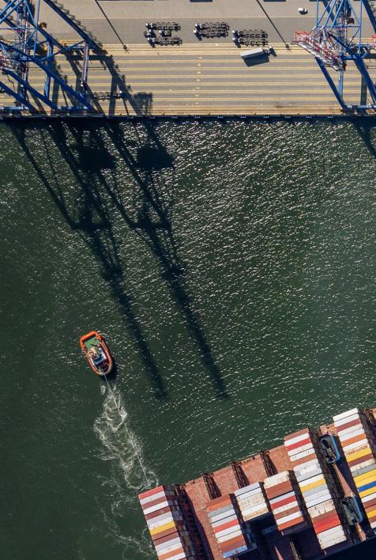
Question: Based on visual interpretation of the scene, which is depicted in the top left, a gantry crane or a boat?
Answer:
gantry crane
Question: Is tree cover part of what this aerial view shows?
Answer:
No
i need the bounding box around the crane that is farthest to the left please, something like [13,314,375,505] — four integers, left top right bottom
[0,12,53,109]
